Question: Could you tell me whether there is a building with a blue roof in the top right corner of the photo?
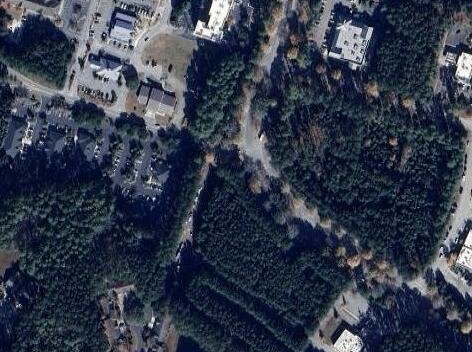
No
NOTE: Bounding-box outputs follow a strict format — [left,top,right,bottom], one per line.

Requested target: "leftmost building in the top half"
[2,118,27,155]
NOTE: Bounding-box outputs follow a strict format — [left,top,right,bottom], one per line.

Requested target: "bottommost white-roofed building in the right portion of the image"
[334,330,364,352]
